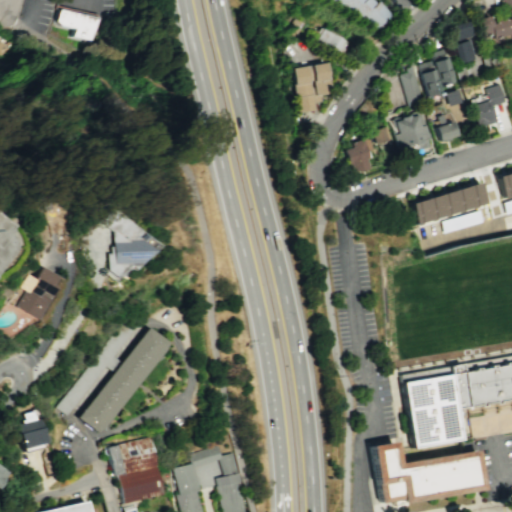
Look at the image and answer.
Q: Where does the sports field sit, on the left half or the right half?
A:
right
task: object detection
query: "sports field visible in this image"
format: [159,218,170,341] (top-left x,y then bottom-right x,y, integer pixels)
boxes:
[395,234,512,370]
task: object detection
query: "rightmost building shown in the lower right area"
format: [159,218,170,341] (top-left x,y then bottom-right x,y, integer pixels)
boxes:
[460,365,512,408]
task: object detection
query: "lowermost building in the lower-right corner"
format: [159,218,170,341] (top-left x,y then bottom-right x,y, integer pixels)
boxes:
[380,444,491,504]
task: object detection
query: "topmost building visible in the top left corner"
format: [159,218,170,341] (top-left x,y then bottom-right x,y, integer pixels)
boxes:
[56,4,102,42]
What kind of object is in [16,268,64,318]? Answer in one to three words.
house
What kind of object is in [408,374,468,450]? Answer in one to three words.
building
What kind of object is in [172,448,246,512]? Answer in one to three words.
building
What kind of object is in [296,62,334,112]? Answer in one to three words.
house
